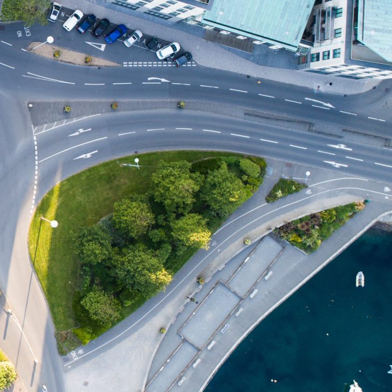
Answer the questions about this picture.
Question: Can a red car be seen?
No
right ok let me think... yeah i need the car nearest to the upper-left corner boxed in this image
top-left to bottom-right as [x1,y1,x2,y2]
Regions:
[48,0,63,22]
